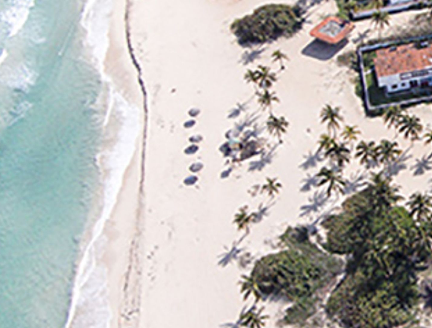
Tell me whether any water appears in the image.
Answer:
Yes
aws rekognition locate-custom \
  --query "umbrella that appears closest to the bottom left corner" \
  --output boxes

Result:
[188,161,205,174]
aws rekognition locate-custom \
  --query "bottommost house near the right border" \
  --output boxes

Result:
[373,43,432,100]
